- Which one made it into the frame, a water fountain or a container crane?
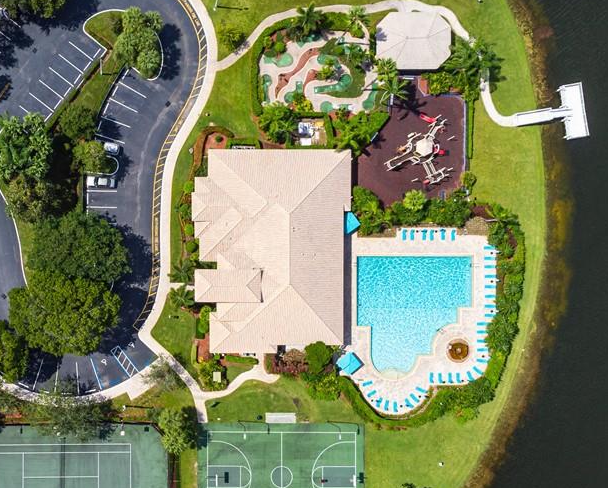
water fountain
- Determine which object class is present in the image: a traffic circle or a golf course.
golf course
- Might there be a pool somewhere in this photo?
Yes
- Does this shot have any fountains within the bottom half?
Yes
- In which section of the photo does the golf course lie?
top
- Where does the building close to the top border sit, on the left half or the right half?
right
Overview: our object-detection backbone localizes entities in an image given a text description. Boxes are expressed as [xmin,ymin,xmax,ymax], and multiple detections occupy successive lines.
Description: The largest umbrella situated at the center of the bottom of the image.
[336,350,363,376]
